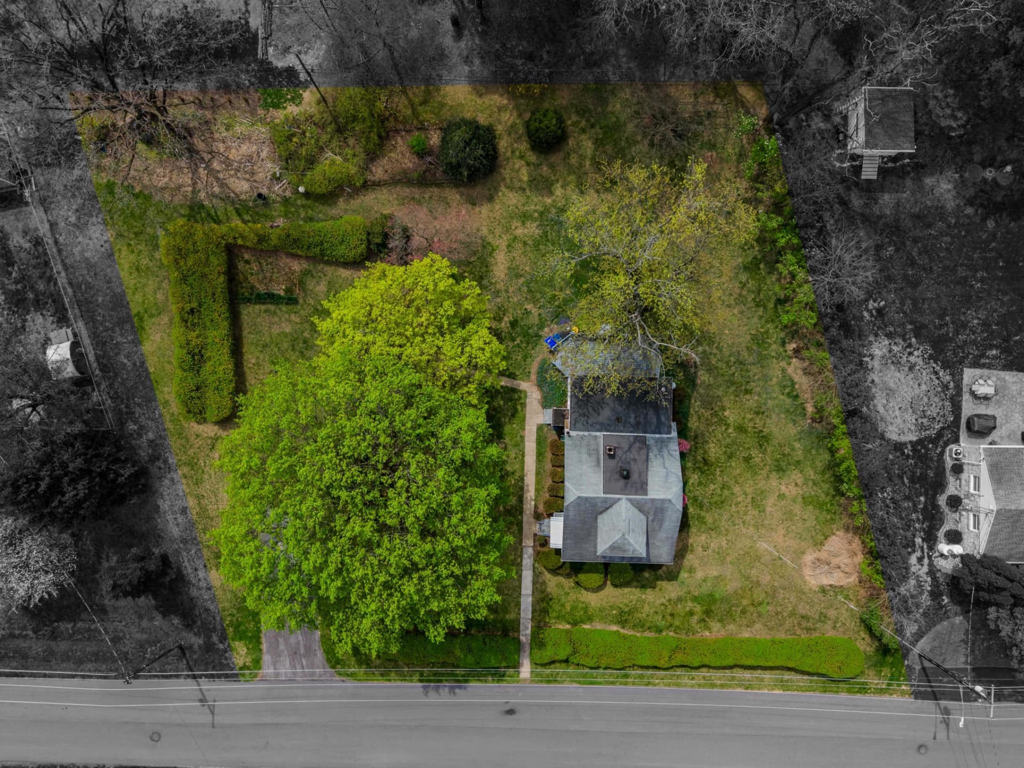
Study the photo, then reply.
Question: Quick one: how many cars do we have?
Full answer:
The count of cars is 0.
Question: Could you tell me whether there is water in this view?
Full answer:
No, no water is visible.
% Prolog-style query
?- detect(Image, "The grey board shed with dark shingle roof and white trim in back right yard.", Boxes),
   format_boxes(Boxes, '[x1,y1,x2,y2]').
[851,87,917,158]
